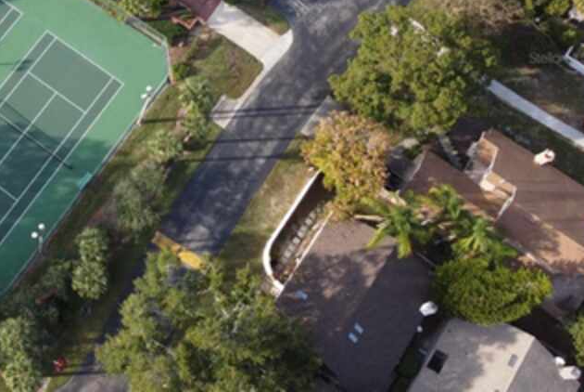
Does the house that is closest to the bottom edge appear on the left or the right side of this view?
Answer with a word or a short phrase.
right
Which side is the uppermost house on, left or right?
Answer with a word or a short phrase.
right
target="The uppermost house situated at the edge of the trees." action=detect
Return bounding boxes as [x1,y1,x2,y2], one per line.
[400,130,584,293]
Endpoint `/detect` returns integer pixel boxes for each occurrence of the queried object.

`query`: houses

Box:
[253,213,435,392]
[404,317,582,392]
[400,130,584,293]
